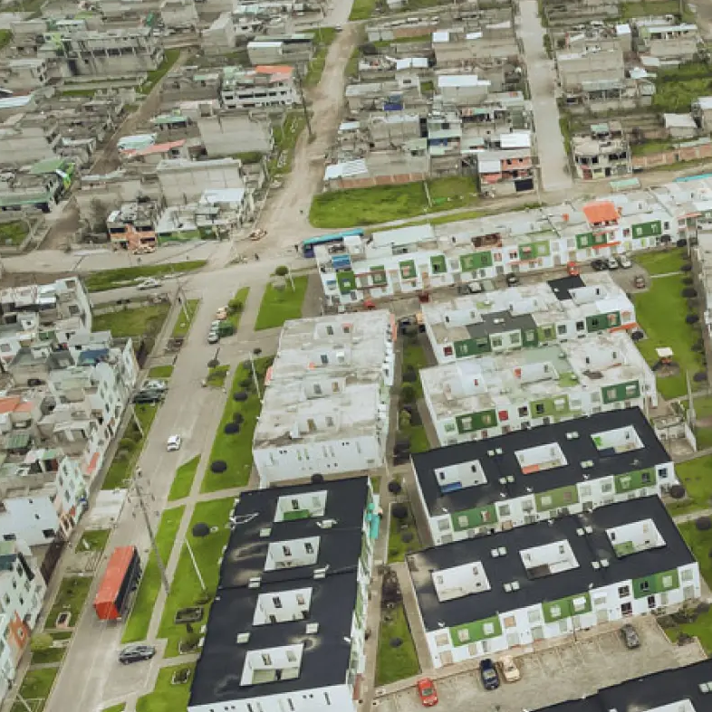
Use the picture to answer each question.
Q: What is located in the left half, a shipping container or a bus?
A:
bus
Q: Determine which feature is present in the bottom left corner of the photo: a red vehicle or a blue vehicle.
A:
red vehicle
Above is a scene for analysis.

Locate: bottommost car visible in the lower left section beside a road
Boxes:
[118,645,153,663]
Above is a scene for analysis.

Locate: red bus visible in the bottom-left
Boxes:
[92,553,136,625]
